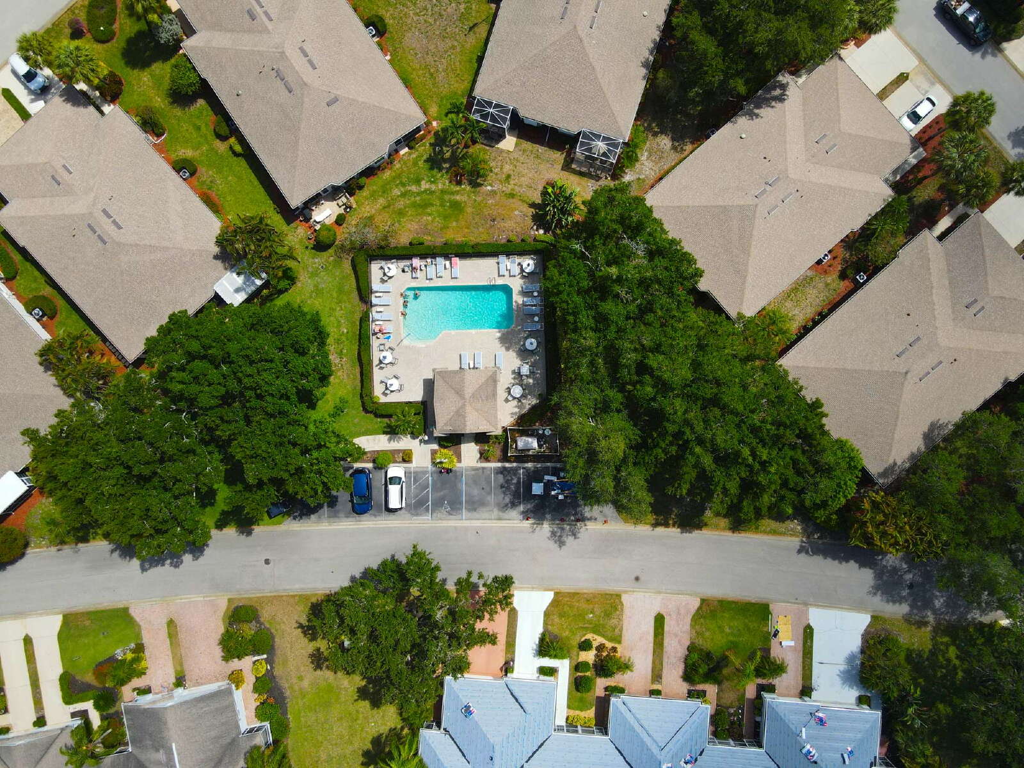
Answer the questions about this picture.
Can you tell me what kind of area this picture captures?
residential area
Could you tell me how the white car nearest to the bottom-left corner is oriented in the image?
up and down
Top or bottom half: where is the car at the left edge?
top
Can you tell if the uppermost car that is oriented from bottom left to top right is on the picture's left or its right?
right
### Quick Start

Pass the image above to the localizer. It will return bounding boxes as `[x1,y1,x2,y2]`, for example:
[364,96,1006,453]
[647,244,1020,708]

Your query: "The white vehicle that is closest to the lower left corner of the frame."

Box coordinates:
[383,464,406,512]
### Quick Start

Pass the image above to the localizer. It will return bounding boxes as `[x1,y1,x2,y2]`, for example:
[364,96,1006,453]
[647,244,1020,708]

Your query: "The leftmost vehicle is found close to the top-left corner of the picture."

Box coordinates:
[6,51,51,98]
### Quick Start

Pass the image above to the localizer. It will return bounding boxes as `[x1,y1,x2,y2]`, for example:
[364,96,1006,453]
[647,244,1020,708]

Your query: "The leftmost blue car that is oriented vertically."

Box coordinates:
[349,467,372,514]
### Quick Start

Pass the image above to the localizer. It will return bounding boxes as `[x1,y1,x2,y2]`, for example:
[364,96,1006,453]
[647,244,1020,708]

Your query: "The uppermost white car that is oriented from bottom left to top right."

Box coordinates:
[898,91,943,134]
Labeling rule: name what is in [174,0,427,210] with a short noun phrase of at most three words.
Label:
house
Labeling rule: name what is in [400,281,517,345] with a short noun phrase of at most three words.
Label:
swimming pool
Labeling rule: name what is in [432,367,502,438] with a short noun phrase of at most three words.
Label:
building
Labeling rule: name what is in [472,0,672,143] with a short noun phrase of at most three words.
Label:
house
